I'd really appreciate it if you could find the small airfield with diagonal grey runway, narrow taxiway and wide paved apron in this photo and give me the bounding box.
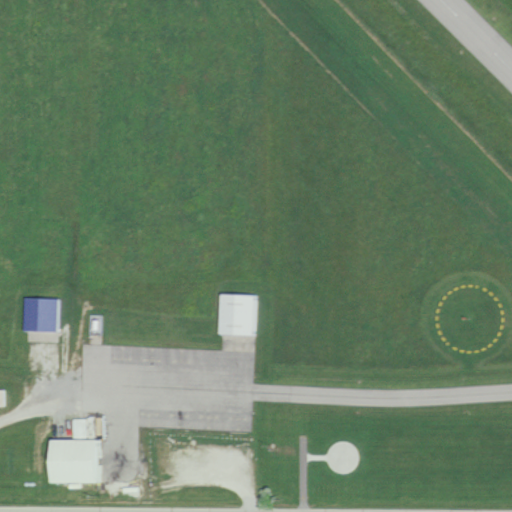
[82,345,512,480]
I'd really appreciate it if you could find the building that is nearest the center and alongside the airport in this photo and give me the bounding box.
[218,294,258,335]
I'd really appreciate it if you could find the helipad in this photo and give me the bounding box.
[308,440,360,474]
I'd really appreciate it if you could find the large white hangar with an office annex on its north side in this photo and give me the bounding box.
[46,440,104,484]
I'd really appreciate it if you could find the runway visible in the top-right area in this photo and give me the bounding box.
[420,0,512,92]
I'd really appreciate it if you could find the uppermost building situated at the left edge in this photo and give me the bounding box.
[23,297,61,332]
